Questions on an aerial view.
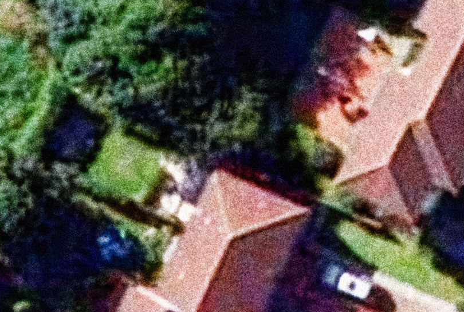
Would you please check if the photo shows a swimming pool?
No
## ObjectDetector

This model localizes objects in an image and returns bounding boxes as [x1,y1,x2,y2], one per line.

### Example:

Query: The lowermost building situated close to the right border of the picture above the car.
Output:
[335,96,460,222]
